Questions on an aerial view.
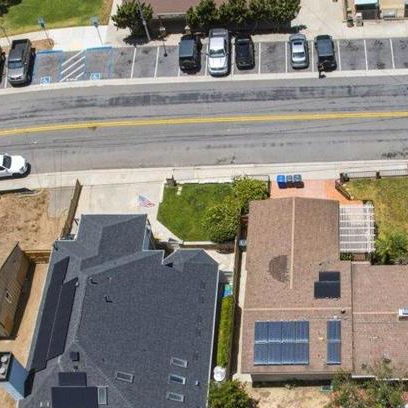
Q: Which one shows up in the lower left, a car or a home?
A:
home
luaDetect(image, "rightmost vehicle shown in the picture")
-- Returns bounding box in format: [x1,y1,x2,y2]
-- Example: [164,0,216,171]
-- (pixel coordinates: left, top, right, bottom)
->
[315,31,337,73]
